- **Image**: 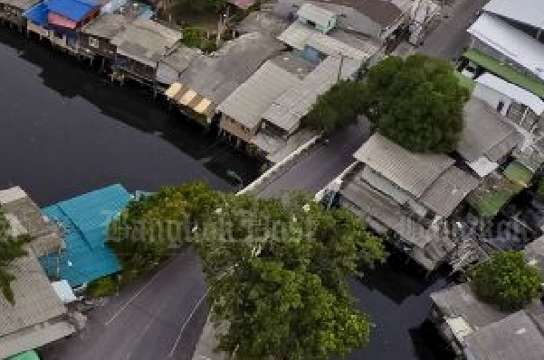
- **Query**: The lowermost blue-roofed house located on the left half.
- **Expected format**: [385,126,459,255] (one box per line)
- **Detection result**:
[42,190,127,298]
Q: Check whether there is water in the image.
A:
Yes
